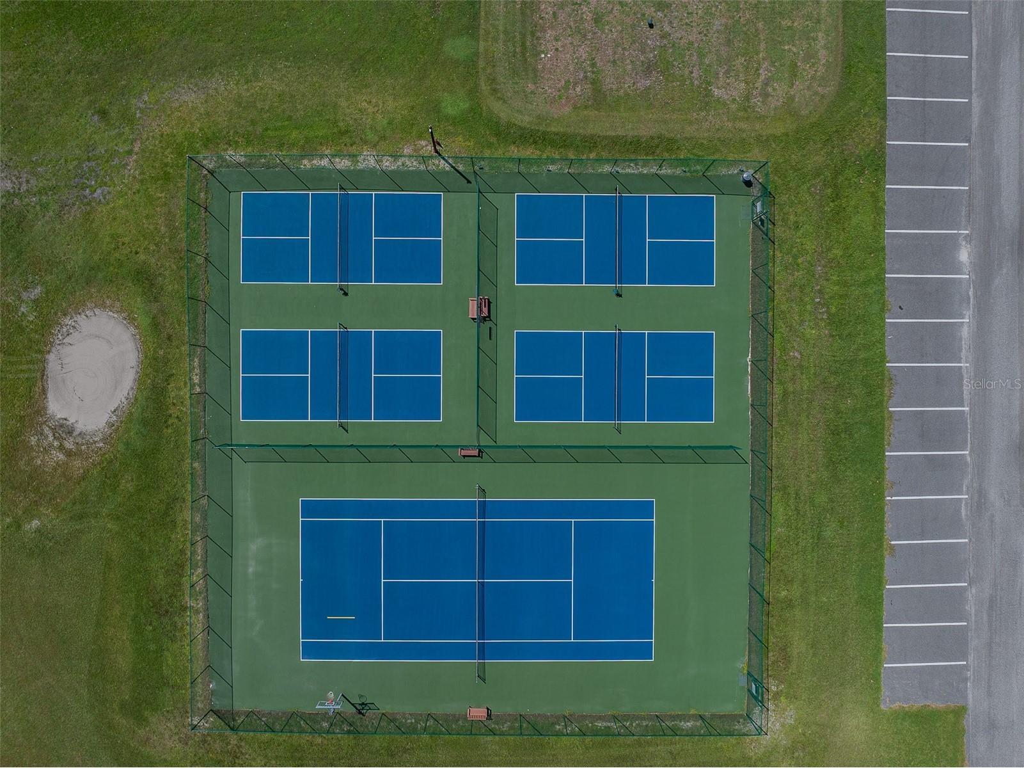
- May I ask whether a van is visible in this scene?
No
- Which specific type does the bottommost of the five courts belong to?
tennis court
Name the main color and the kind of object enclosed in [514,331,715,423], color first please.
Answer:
blue sports court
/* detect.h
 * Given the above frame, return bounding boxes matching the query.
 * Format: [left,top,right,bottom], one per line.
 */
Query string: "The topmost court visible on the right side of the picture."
[515,194,715,286]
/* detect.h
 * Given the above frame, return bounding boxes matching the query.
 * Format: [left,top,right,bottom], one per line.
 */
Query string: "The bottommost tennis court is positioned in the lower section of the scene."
[300,498,655,661]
